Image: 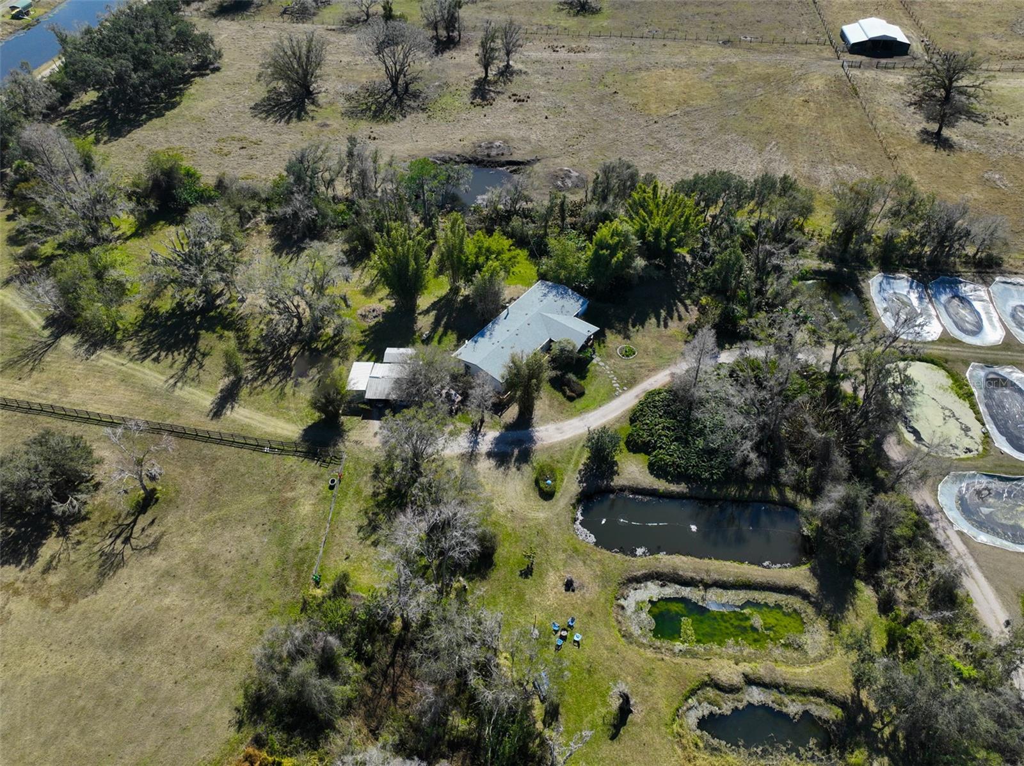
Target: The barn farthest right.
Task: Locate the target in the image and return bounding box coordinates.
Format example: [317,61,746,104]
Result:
[840,18,914,55]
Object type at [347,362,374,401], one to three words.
shed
